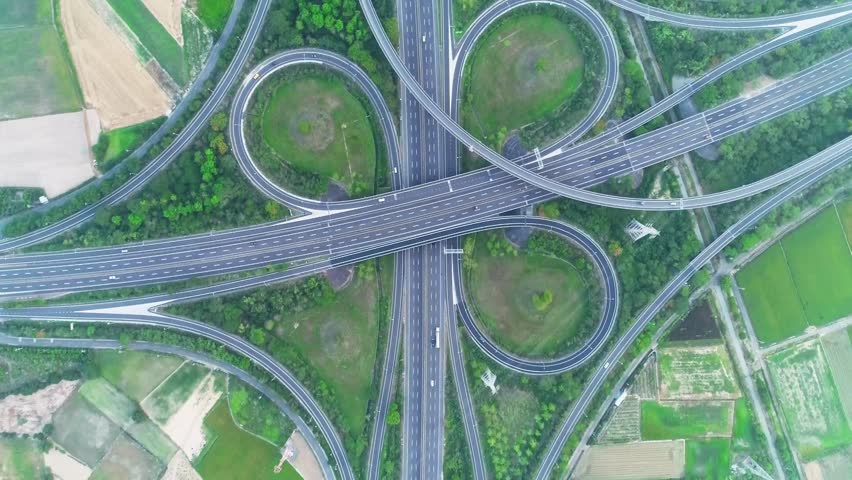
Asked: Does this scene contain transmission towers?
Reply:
Yes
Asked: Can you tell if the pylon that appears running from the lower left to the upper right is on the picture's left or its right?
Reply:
left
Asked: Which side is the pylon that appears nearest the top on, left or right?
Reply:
right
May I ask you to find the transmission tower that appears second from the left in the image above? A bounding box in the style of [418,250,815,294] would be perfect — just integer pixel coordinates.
[479,367,500,394]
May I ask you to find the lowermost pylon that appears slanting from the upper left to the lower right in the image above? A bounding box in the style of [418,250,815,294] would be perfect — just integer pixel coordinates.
[740,454,785,480]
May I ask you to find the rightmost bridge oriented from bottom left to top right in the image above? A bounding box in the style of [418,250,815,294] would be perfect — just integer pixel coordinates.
[688,229,734,271]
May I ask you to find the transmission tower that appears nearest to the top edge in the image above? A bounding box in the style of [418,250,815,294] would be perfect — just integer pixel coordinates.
[623,218,662,242]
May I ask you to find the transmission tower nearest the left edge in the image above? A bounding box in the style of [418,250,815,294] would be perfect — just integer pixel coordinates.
[272,443,297,472]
